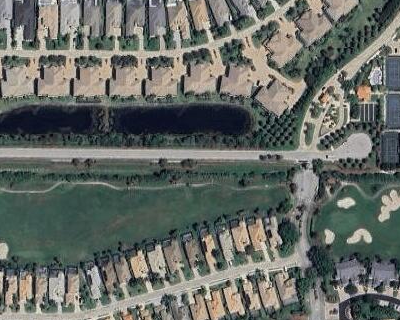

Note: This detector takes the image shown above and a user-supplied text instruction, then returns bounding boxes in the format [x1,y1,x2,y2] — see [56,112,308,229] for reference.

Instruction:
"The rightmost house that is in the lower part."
[370,260,397,286]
